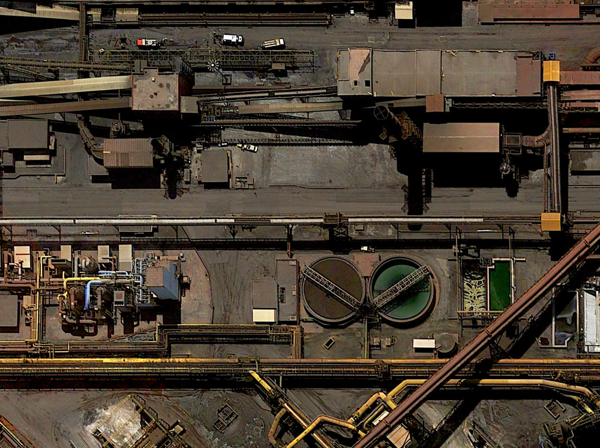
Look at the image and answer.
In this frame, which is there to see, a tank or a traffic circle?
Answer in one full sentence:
There is a tank in the scene.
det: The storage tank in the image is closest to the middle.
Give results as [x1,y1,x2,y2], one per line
[301,256,367,322]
